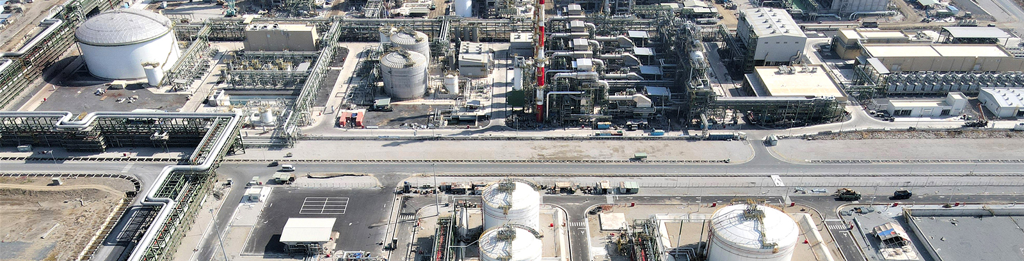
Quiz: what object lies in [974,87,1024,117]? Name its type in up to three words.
building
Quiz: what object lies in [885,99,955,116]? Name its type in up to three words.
building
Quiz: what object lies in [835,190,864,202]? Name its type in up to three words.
vehicle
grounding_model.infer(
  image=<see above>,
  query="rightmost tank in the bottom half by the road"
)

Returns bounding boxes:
[701,195,799,261]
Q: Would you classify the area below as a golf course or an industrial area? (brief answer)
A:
industrial area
